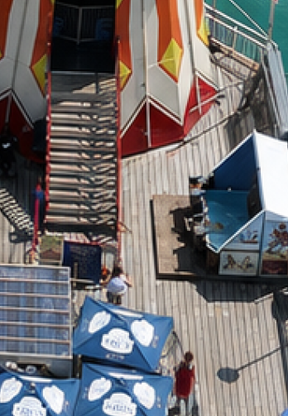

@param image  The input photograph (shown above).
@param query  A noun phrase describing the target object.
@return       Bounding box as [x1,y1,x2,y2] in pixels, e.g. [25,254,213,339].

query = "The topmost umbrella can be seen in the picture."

[74,296,172,372]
